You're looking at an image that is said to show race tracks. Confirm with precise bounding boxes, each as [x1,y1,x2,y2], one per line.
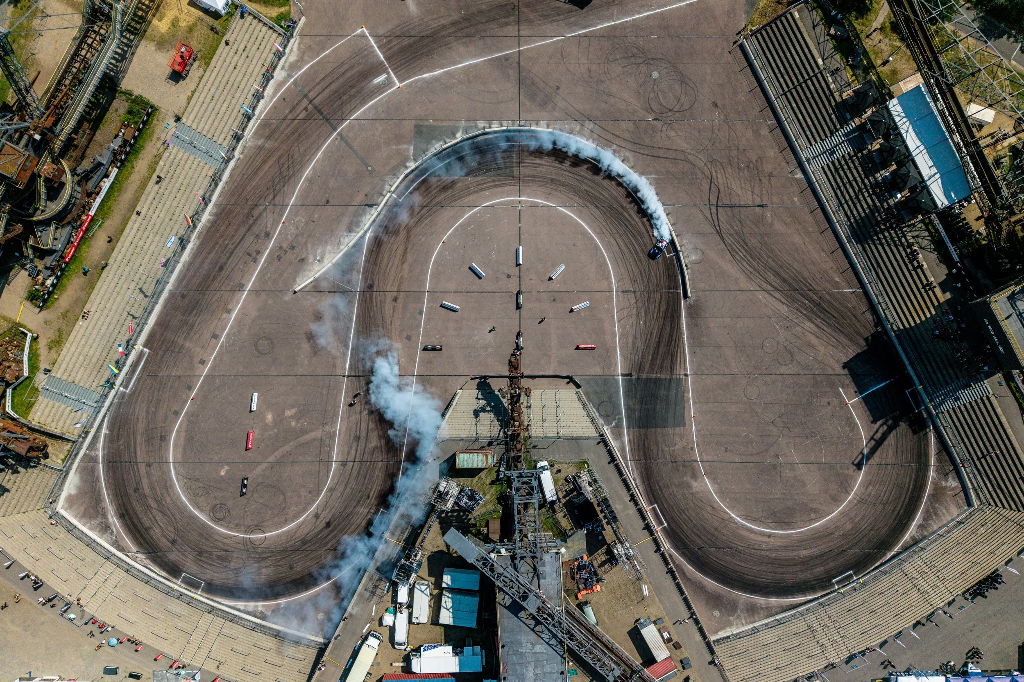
[100,0,934,606]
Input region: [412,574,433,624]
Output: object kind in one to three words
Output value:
trailer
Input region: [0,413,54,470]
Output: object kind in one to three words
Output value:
work vehicle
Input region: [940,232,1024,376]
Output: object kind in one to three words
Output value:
house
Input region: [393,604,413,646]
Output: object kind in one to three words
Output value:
vehicle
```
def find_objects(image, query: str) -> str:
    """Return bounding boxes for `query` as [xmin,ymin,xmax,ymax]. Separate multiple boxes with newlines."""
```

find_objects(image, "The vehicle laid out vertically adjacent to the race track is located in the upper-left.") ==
[0,0,137,291]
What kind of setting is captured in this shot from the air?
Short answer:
sports ground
